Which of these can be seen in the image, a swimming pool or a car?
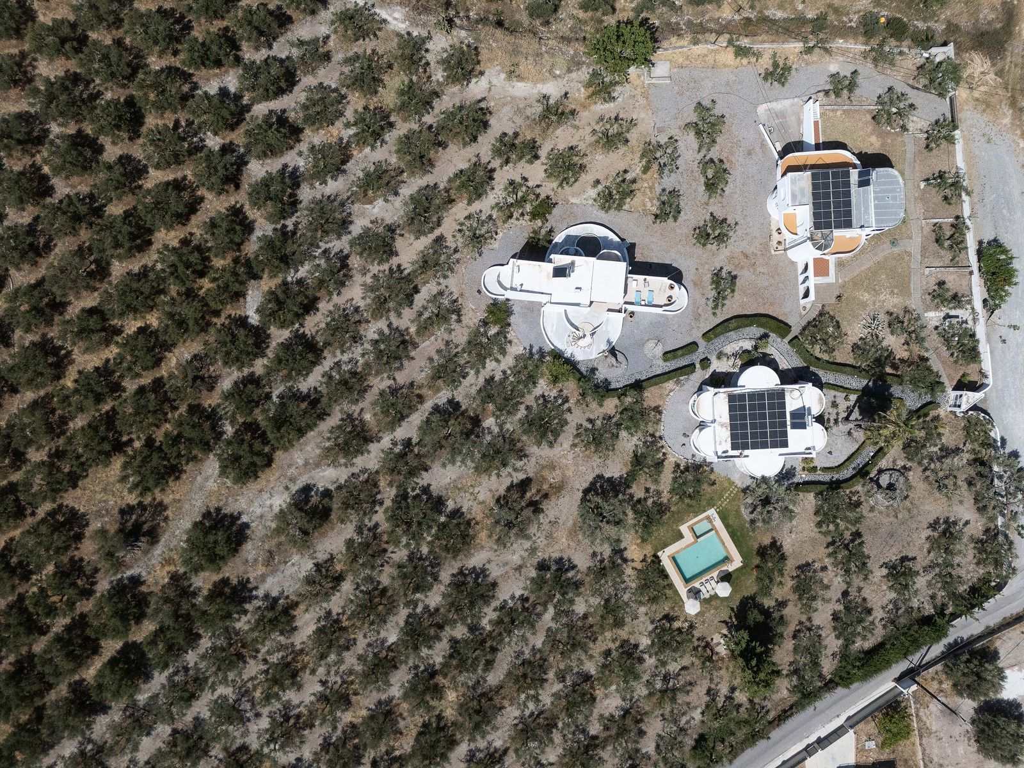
swimming pool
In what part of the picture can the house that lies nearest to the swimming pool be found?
right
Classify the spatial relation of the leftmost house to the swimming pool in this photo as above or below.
above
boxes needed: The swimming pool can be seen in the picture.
[658,508,743,600]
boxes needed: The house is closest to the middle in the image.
[482,223,688,360]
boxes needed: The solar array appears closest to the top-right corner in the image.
[812,169,854,229]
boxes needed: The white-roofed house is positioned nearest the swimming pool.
[687,364,827,478]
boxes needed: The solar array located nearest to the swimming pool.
[728,392,788,450]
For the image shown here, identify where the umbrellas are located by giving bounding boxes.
[716,581,731,597]
[684,598,700,614]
